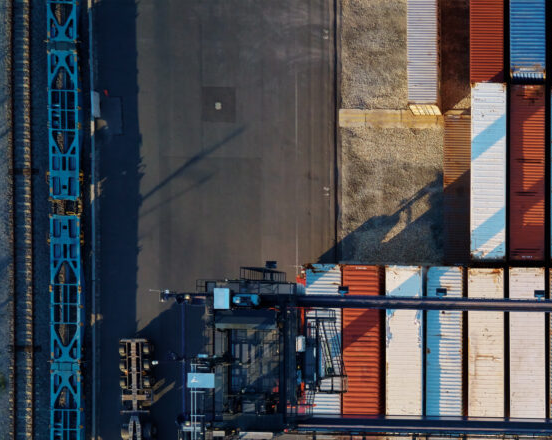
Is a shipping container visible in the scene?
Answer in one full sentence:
Yes, a shipping container appears in the view.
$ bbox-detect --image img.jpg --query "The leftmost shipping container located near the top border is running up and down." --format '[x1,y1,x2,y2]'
[407,0,444,114]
